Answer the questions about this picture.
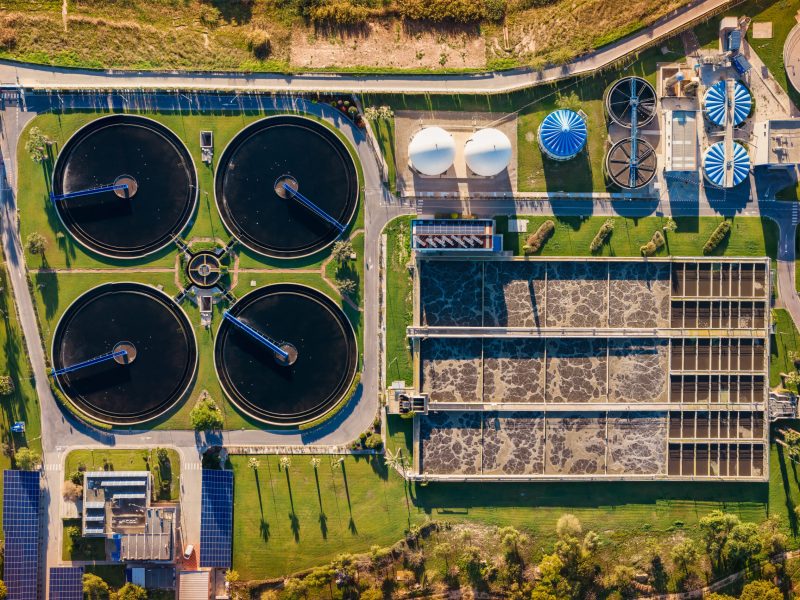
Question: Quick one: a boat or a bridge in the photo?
bridge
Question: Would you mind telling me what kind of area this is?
industrial area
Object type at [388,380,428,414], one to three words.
building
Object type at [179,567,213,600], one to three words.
shed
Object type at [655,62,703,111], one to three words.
building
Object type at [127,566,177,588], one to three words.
shed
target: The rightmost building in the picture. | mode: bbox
[747,119,800,171]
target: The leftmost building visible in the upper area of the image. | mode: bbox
[412,220,512,256]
